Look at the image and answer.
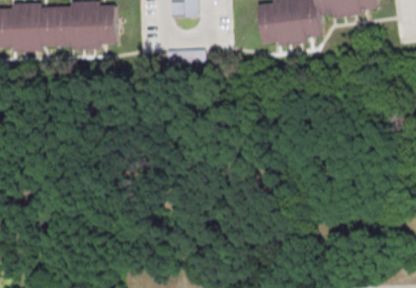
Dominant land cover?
trees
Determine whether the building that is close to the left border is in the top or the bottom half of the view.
top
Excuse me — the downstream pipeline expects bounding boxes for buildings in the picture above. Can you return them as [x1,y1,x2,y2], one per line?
[0,2,116,52]
[172,0,200,18]
[256,0,319,46]
[168,48,206,62]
